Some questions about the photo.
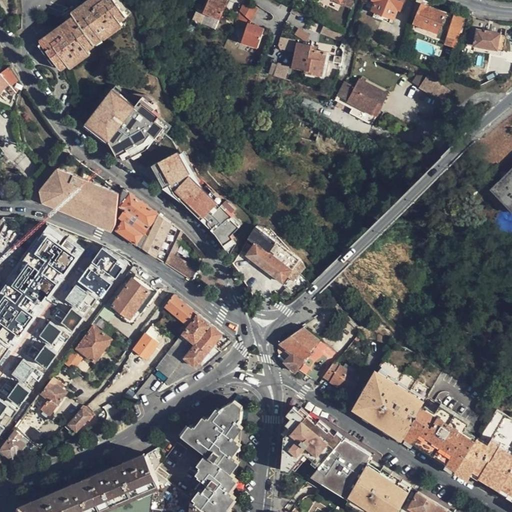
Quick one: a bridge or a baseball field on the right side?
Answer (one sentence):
Visible on the right side is a bridge.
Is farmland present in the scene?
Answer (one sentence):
No, no farmland is visible.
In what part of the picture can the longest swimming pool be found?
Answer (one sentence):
The longest swimming pool is located in the top right region of the scene.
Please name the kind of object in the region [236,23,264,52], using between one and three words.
house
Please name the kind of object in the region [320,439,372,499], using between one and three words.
building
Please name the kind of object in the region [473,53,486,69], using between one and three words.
swimming pool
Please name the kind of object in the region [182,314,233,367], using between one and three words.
house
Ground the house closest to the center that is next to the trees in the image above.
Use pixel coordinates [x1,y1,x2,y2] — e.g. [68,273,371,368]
[232,225,306,286]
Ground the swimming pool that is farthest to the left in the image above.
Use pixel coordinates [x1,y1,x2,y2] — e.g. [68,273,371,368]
[414,36,442,58]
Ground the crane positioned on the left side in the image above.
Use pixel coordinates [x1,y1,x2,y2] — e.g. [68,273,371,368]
[0,175,95,264]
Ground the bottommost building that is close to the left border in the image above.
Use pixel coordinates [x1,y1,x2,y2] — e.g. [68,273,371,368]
[14,448,175,512]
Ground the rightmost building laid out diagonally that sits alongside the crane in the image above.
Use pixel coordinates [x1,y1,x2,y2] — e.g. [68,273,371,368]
[151,151,244,254]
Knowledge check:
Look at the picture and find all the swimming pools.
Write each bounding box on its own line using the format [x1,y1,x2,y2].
[473,53,486,69]
[414,36,442,58]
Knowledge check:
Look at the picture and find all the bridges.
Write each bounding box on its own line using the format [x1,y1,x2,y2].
[304,138,471,297]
